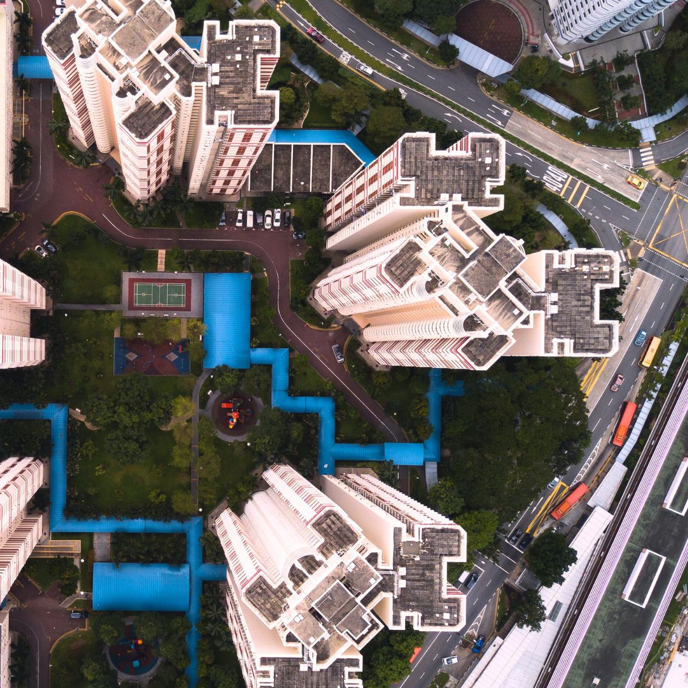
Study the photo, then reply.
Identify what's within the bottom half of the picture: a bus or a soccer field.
bus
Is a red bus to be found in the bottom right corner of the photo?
Yes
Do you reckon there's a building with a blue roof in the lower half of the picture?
Yes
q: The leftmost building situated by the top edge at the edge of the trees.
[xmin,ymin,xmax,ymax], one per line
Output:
[43,0,283,207]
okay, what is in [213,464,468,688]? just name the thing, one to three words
building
